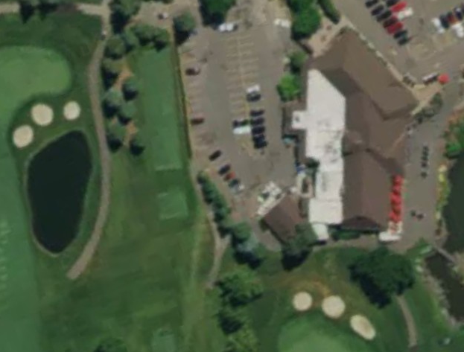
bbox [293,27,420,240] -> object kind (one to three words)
building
